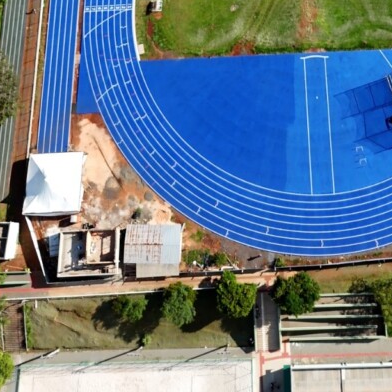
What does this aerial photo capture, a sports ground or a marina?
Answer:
sports ground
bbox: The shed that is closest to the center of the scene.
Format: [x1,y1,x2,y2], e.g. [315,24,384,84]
[124,224,182,277]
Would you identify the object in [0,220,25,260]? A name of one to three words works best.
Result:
building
